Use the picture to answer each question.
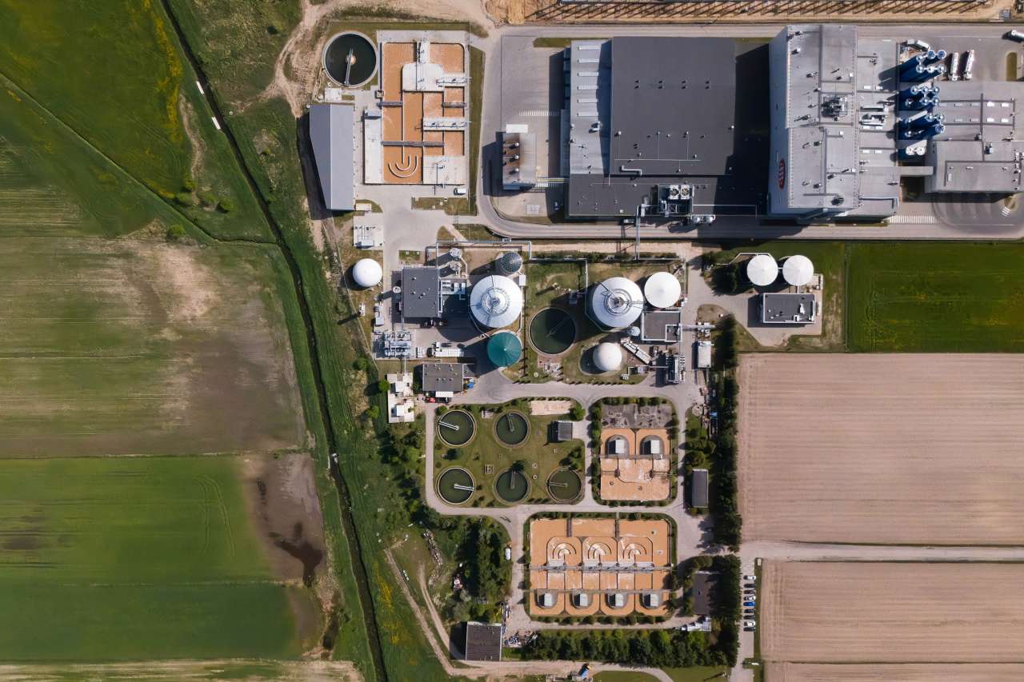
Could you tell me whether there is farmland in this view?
Yes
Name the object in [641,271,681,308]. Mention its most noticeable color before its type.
white storage tank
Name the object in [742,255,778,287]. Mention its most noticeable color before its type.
white storage tank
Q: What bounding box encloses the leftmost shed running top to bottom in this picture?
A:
[310,105,356,211]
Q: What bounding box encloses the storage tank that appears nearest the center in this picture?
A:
[487,331,522,370]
